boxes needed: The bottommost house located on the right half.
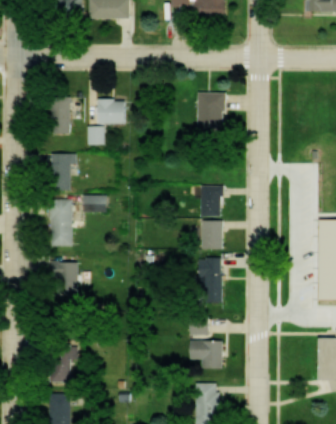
[195,384,219,424]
